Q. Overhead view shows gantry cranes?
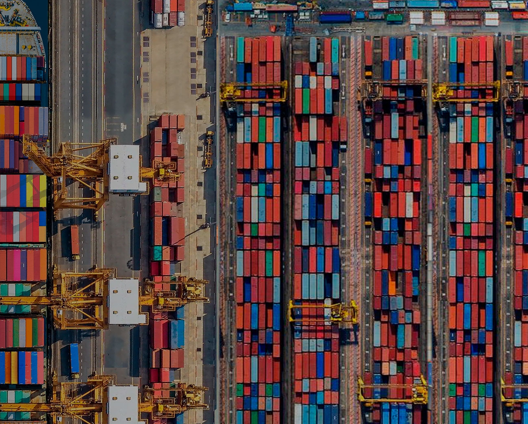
Yes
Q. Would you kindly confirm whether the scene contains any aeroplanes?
No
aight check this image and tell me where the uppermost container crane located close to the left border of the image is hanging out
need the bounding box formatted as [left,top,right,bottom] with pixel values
[18,131,182,199]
